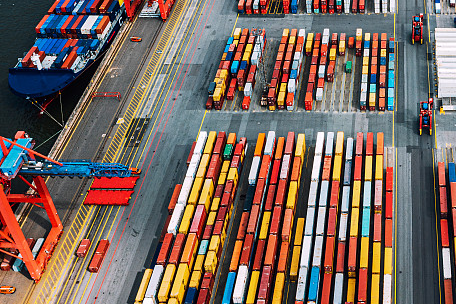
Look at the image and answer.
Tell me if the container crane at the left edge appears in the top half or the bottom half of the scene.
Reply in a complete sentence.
It is in the bottom half that the container crane at the left edge appears.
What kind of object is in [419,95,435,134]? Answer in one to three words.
work vehicle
